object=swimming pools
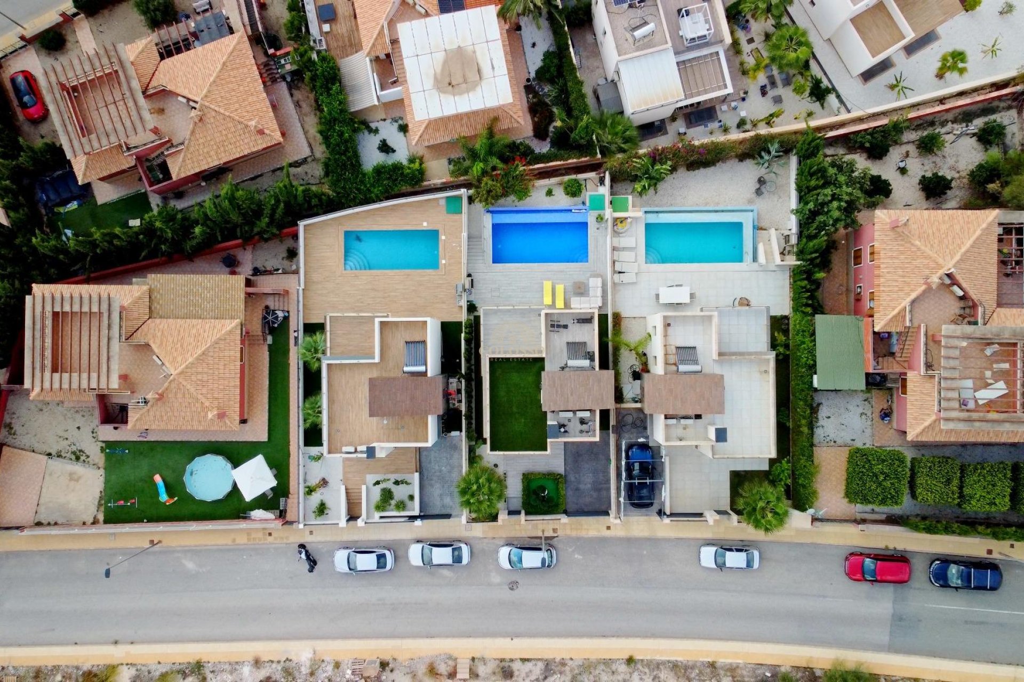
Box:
[338,222,445,275]
[483,206,590,265]
[183,451,238,503]
[644,206,759,267]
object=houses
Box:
[791,0,915,83]
[637,306,776,458]
[846,208,1024,443]
[43,1,283,197]
[25,274,247,431]
[473,307,615,454]
[595,0,734,131]
[354,0,524,148]
[321,313,448,472]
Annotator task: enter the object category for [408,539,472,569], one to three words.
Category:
car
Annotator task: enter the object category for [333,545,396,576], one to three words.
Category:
car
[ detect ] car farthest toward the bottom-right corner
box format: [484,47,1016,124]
[926,557,1001,591]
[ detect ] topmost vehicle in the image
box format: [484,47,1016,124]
[9,68,53,125]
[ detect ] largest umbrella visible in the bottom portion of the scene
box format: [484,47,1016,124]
[233,455,277,502]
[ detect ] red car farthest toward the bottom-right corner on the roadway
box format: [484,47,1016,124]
[841,552,911,584]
